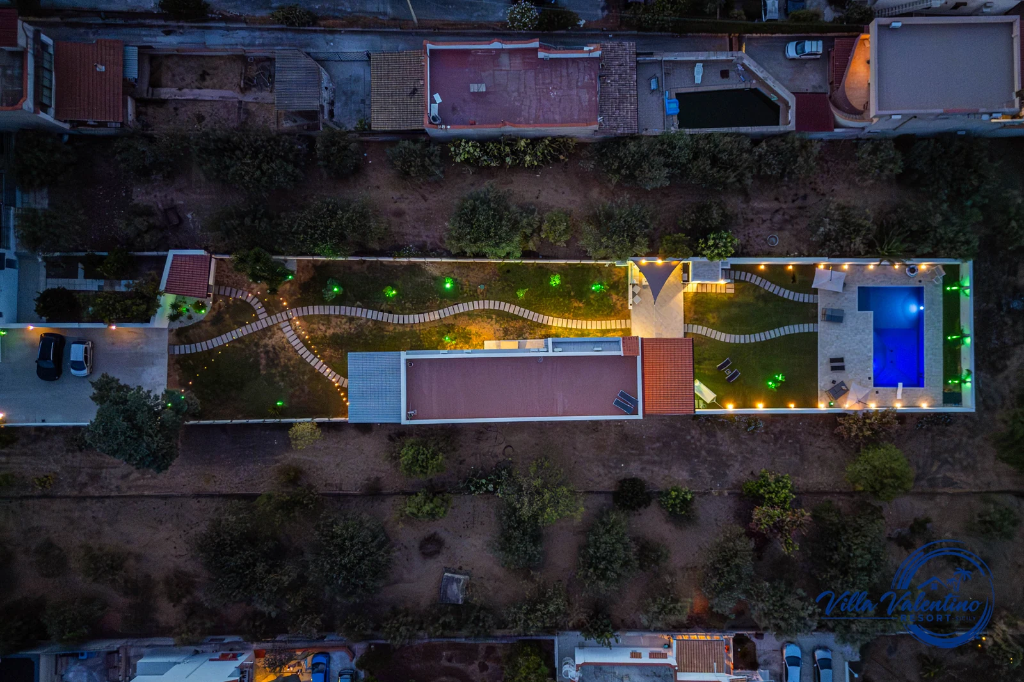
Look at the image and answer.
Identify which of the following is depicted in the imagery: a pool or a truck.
pool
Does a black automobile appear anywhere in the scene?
Yes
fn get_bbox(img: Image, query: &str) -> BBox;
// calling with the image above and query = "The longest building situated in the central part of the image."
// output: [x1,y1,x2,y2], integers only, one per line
[348,336,696,429]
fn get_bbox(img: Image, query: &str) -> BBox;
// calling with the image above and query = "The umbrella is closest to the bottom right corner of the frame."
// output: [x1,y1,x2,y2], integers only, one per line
[847,382,871,416]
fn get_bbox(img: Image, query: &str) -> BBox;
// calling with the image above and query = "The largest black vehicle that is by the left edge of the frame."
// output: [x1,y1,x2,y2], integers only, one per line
[36,333,66,380]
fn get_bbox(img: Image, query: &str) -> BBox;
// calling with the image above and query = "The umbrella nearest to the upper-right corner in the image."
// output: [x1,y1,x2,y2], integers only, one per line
[812,268,846,292]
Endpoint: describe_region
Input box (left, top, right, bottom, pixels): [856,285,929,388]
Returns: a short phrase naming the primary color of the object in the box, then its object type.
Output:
blue swimming pool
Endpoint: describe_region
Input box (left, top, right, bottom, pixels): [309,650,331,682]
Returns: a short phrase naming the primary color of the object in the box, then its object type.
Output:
blue car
